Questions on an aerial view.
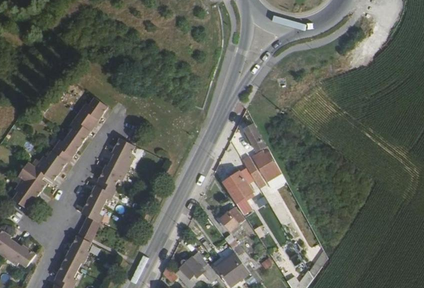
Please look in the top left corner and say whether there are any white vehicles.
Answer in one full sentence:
No, no white vehicle is visible in the top left corner.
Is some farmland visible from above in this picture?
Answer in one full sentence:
Yes, there's farmland in this view.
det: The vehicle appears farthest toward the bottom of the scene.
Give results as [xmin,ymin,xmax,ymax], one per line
[132,256,150,284]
